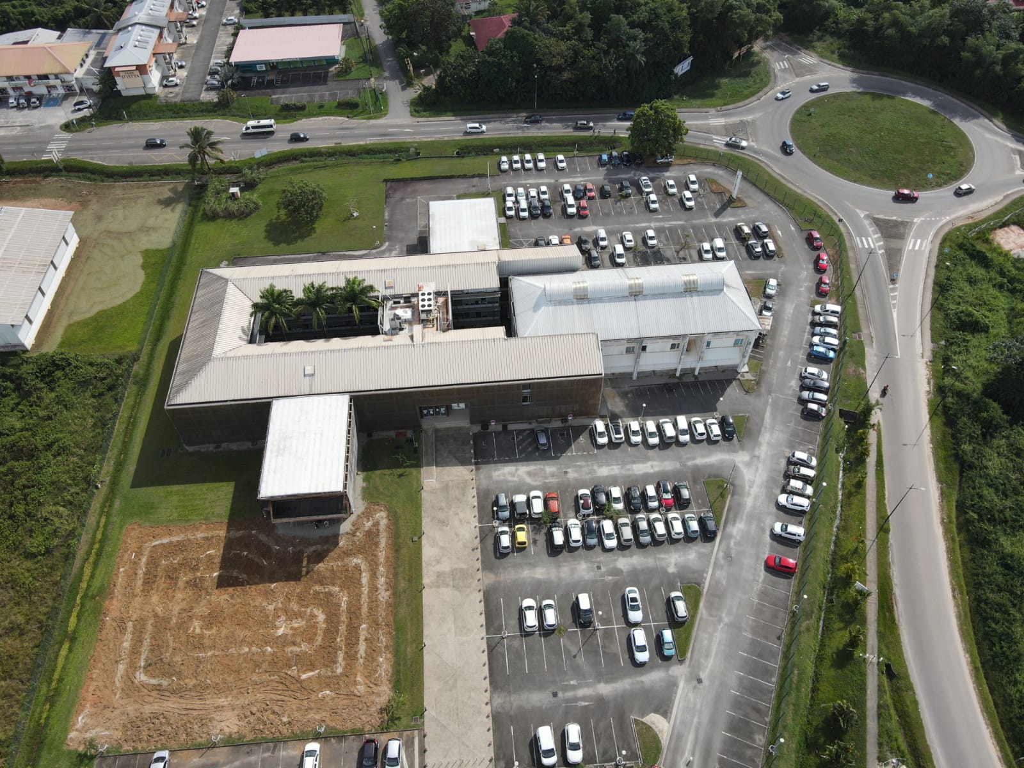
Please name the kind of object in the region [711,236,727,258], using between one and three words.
vehicle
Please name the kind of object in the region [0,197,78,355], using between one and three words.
building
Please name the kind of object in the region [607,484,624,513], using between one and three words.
car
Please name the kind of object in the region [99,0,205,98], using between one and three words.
building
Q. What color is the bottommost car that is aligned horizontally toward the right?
red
